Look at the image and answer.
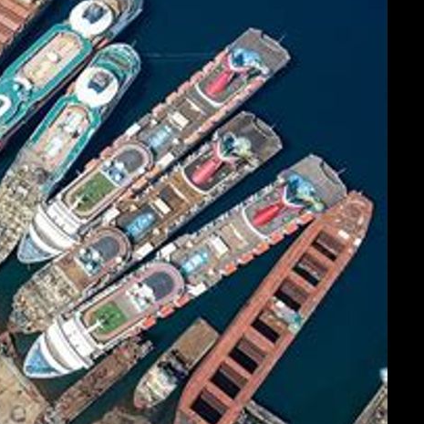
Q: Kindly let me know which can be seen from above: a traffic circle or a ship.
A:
ship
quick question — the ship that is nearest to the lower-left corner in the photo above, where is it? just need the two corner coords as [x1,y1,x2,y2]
[34,337,154,424]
